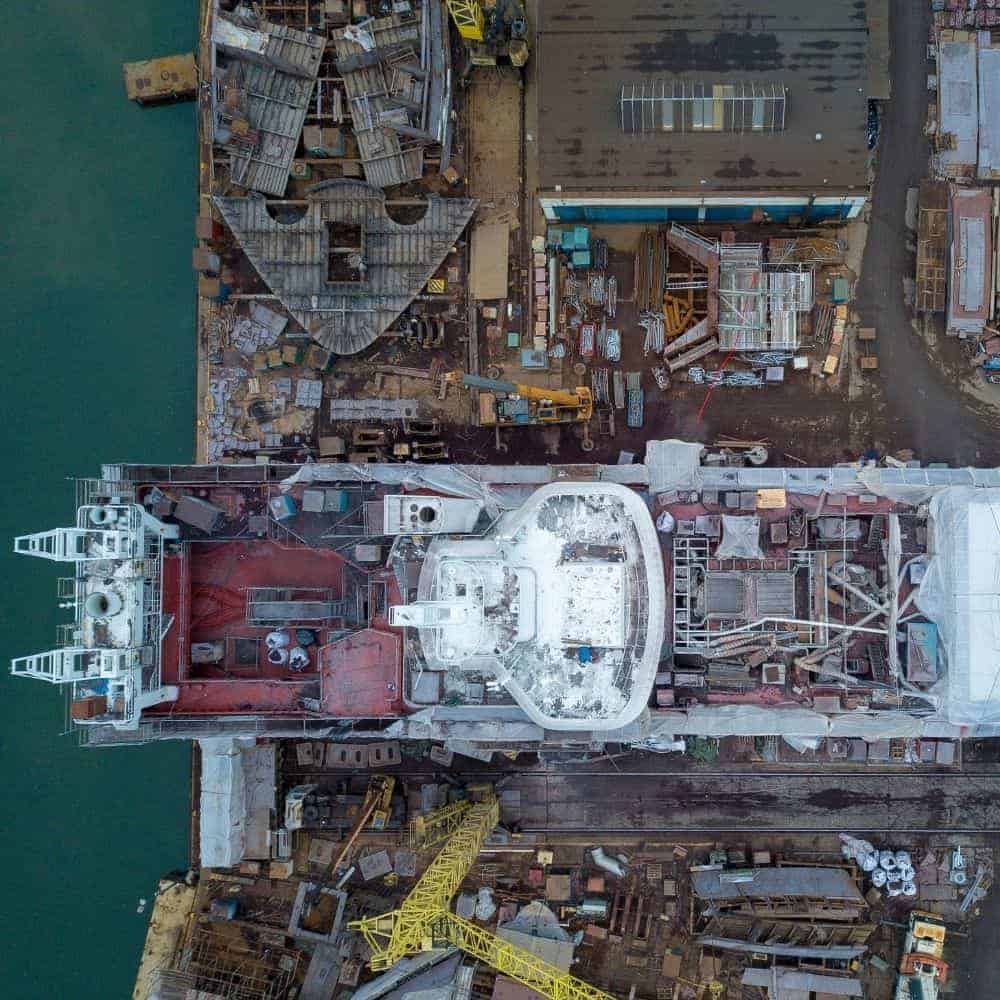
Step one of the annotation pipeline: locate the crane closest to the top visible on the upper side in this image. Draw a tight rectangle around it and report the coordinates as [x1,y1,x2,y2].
[443,0,529,74]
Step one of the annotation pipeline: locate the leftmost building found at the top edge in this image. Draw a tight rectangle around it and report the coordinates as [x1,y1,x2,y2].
[538,0,868,227]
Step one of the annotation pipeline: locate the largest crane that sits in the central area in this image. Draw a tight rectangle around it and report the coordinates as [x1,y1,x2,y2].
[440,361,594,453]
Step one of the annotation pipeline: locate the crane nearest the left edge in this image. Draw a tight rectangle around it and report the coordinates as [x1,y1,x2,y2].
[331,771,399,875]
